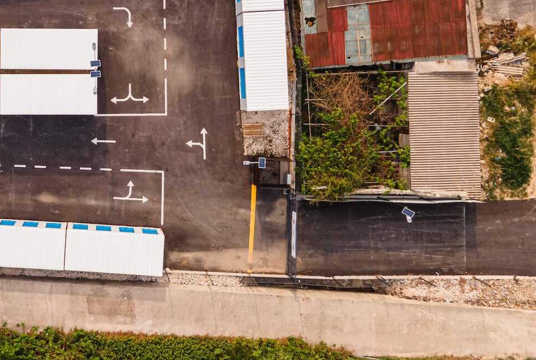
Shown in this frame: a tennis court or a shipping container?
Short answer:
shipping container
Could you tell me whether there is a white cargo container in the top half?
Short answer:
Yes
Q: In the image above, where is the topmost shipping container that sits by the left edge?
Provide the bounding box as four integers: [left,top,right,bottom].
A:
[0,29,97,69]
